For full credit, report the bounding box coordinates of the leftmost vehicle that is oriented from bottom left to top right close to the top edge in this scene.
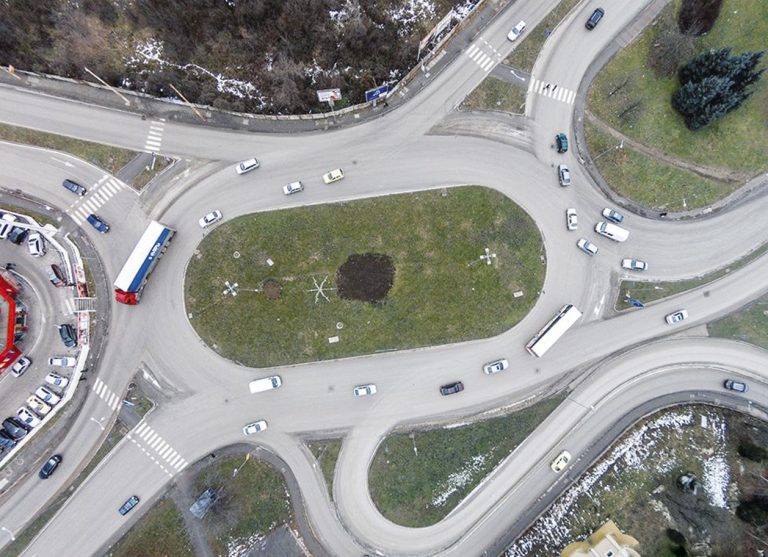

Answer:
[506,20,526,43]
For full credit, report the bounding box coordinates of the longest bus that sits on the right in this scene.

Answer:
[524,302,583,357]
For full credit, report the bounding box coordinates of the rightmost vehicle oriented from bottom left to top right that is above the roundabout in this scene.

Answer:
[583,8,604,32]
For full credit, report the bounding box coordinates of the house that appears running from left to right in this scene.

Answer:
[560,520,652,557]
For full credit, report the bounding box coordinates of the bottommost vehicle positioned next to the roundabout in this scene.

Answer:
[243,419,268,435]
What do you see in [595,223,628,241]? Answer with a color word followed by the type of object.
white vehicle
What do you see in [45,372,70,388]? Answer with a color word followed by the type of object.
white car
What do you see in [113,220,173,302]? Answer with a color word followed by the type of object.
white truck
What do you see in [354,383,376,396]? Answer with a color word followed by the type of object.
white vehicle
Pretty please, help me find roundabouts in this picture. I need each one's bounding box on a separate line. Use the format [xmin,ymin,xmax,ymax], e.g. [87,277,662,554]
[130,132,599,421]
